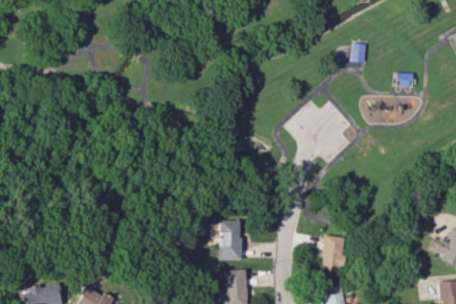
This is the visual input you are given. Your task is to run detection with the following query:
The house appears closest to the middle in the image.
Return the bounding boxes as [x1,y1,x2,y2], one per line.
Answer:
[218,220,242,261]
